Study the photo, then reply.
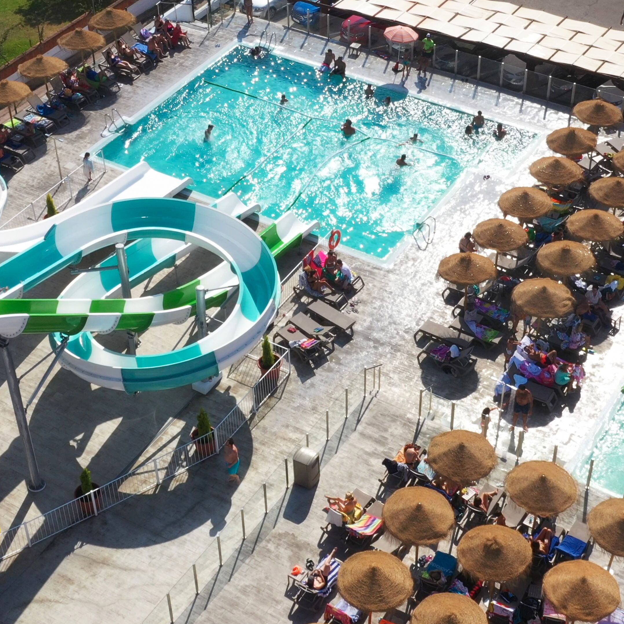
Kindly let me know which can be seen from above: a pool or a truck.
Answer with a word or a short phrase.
pool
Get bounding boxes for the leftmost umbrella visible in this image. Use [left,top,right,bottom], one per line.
[0,77,35,133]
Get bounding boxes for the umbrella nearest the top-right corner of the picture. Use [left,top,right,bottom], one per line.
[568,101,624,138]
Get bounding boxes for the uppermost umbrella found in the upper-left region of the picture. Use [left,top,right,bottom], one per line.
[86,8,134,53]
